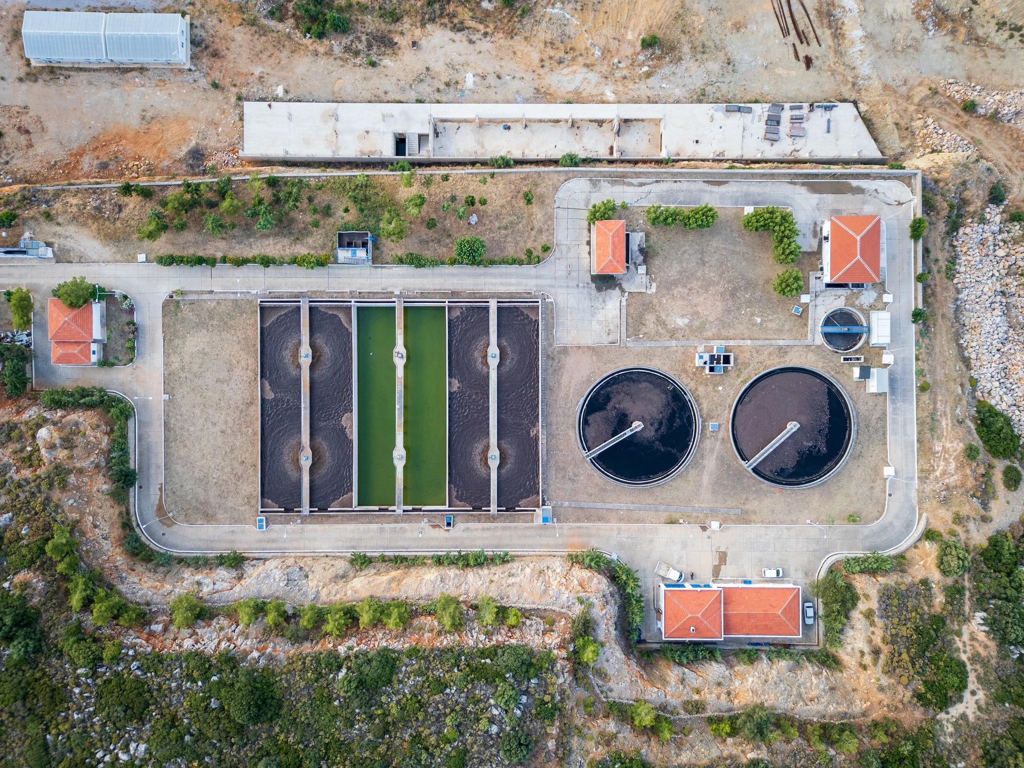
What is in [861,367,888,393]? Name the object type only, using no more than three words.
shed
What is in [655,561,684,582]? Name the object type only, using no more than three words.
truck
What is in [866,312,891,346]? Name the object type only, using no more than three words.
shed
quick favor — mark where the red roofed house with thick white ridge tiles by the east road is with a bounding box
[819,215,881,290]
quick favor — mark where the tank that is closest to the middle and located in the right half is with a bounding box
[576,364,702,489]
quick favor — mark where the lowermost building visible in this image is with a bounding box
[660,584,802,642]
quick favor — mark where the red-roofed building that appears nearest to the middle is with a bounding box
[590,220,634,277]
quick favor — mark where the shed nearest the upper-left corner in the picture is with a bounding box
[21,12,112,66]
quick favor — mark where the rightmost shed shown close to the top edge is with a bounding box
[104,13,186,68]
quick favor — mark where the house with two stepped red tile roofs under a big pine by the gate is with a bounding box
[48,299,102,364]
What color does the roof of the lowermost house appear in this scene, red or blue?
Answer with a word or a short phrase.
red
